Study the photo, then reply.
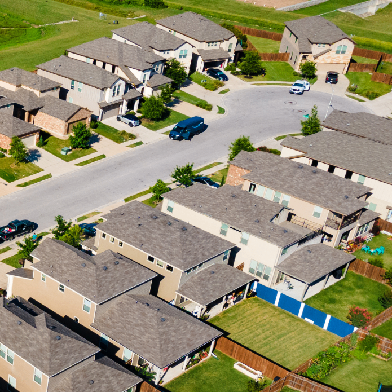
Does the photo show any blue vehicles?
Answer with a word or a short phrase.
Yes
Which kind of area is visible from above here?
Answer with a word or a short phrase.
residential area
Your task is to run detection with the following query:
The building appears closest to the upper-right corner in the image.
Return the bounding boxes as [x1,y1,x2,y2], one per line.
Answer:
[284,22,358,74]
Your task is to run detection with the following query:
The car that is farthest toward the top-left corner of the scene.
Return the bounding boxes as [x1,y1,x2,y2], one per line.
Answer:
[113,114,137,127]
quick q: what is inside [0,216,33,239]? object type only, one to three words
truck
